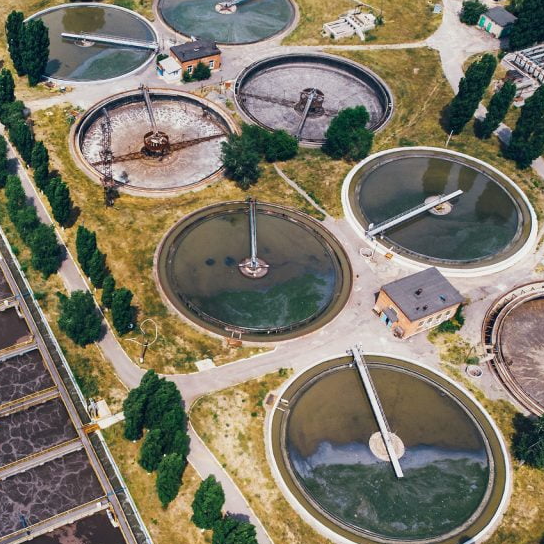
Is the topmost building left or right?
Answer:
right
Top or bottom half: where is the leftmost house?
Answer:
top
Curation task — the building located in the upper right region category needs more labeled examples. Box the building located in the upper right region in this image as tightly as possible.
[478,8,512,36]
